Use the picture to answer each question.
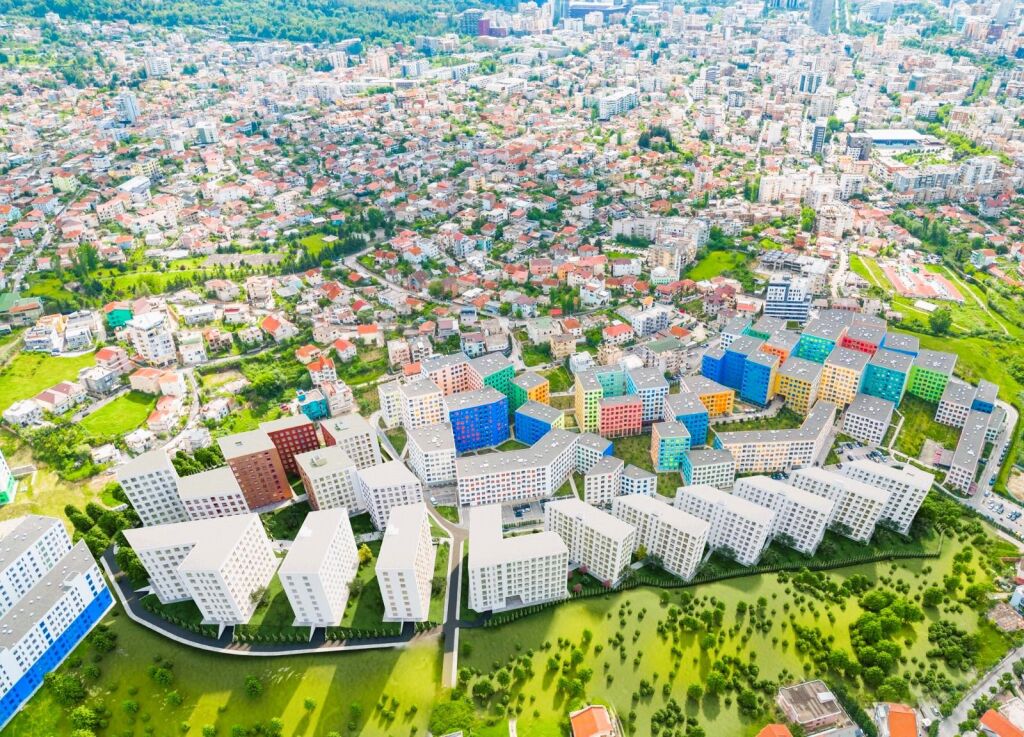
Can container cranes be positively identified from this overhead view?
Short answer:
No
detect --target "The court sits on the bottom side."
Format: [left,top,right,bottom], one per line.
[917,440,954,466]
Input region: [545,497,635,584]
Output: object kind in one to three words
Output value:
building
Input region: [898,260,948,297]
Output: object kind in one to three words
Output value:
shed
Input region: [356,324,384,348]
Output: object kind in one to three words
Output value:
house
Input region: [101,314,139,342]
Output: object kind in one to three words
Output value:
house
